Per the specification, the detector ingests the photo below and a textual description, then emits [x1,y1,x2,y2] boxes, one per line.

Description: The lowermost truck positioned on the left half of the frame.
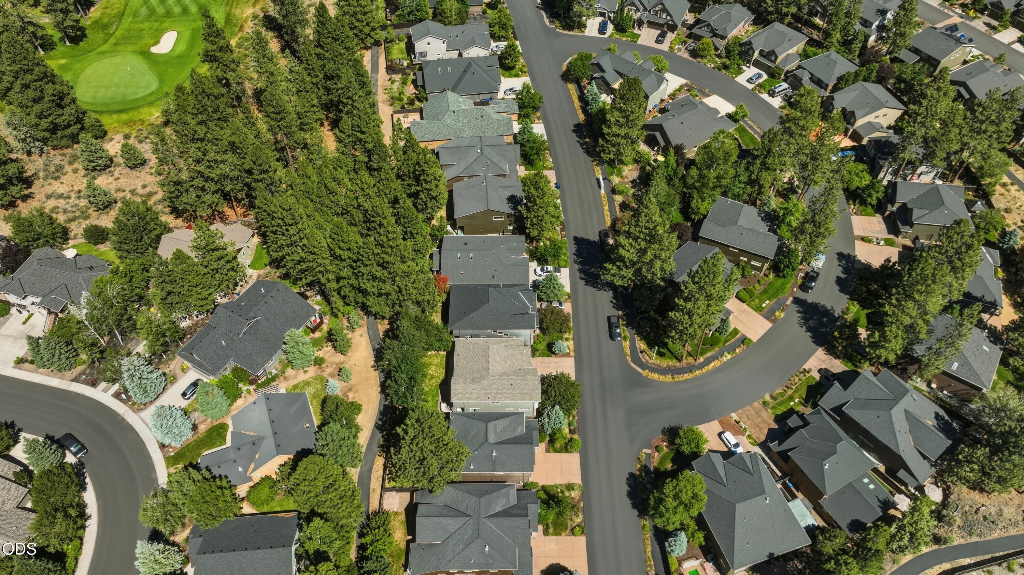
[60,431,85,455]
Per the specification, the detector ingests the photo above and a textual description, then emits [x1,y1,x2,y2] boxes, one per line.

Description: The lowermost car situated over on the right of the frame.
[721,428,745,453]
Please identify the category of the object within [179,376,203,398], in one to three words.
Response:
car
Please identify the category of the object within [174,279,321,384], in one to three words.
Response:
house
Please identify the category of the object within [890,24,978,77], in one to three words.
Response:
house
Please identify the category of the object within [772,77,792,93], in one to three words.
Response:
vehicle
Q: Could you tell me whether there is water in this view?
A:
No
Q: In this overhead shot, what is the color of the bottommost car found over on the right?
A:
white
